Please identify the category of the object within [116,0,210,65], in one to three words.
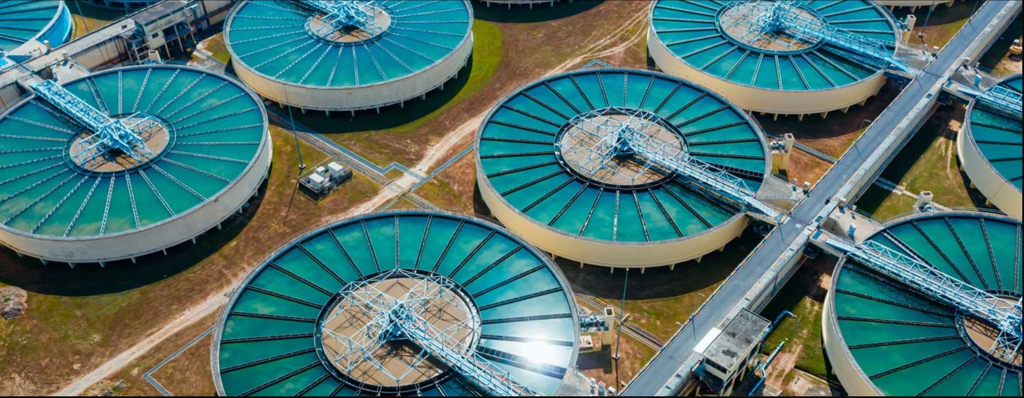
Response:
building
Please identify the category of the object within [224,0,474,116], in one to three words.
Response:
storage tank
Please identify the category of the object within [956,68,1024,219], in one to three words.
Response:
storage tank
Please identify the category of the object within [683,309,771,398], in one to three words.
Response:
building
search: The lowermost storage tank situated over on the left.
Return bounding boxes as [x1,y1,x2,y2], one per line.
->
[211,205,581,398]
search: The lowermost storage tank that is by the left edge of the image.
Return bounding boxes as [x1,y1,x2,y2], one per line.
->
[0,61,273,270]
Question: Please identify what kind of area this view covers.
industrial area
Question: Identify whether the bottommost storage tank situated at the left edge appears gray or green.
gray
